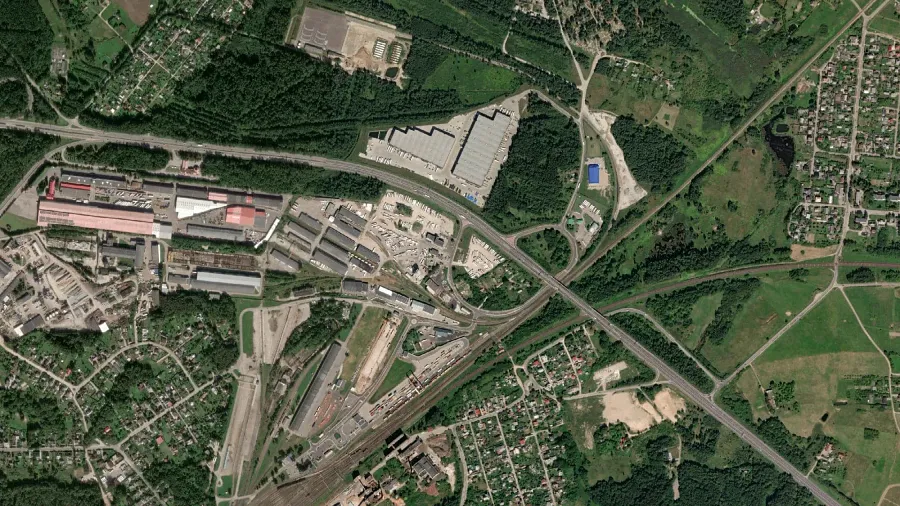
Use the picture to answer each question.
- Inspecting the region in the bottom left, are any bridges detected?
No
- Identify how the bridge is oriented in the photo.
diagonally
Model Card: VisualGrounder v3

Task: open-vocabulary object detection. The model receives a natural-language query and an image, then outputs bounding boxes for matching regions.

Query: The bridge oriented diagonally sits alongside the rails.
[534,267,625,340]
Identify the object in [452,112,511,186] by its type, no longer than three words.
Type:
building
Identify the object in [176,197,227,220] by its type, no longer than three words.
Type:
building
